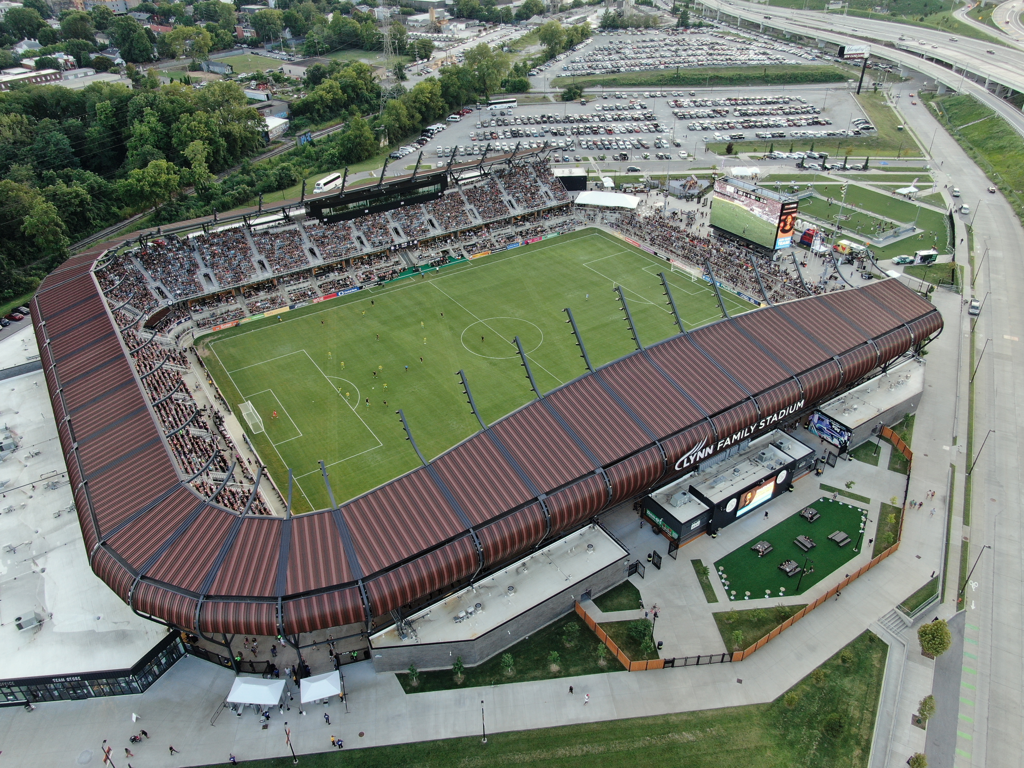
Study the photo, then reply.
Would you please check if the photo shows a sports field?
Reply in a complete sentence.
Yes, a sports field can be made out from above.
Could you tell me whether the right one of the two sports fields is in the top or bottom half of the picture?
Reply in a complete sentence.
The right one of the two sports fields sits in the top half of the picture.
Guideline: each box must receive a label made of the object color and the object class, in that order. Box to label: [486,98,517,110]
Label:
white vehicle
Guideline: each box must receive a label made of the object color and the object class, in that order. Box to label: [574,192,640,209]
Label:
white tent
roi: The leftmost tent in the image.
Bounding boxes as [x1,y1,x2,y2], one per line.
[227,677,287,717]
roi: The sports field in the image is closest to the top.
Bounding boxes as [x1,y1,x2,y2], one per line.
[769,184,950,260]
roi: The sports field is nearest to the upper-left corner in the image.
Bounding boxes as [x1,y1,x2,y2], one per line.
[196,232,755,512]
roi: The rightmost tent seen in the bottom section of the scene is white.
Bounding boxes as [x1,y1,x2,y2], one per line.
[301,671,343,714]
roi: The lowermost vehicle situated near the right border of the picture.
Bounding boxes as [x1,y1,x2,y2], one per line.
[969,297,982,312]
